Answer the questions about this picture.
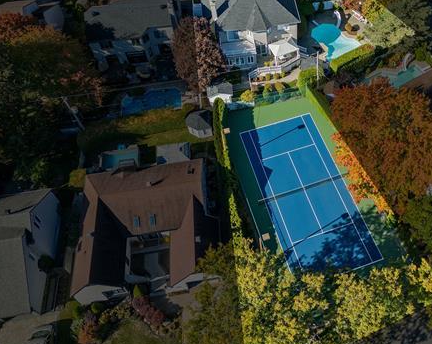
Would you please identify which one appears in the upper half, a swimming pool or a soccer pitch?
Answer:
swimming pool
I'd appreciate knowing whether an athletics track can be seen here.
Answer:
No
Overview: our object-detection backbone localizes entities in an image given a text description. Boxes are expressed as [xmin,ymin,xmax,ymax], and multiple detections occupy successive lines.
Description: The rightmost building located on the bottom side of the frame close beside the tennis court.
[70,158,222,300]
